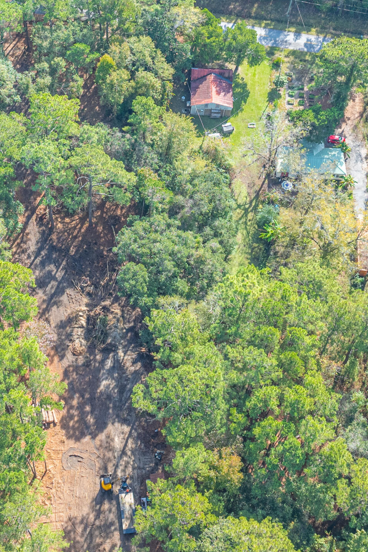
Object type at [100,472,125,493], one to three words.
work vehicle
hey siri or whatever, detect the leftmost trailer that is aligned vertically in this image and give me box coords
[118,480,137,534]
